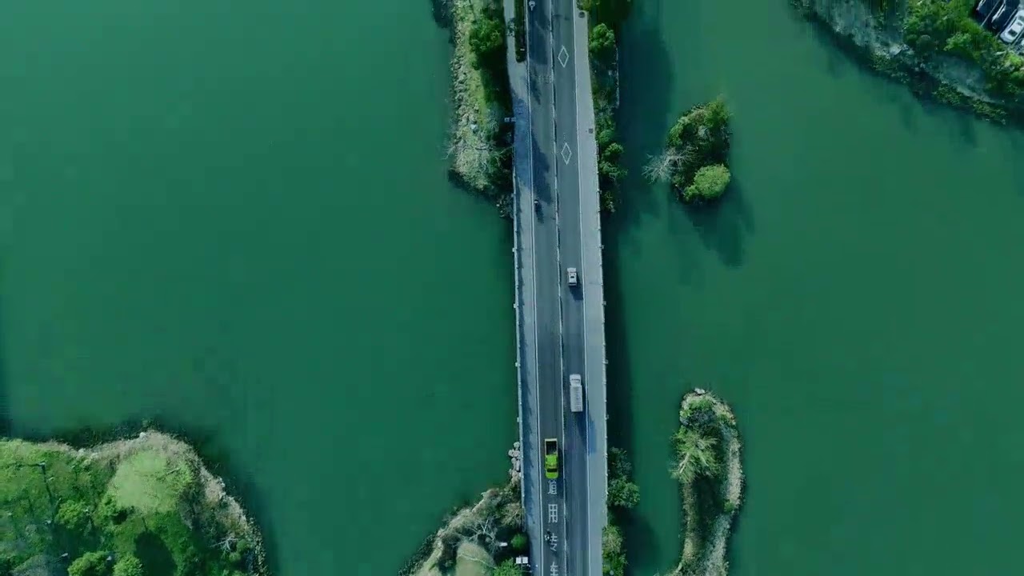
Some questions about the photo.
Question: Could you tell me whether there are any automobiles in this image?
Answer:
Yes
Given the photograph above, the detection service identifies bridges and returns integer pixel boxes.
[511,132,611,535]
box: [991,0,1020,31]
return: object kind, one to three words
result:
car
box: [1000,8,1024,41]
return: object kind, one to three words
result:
car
